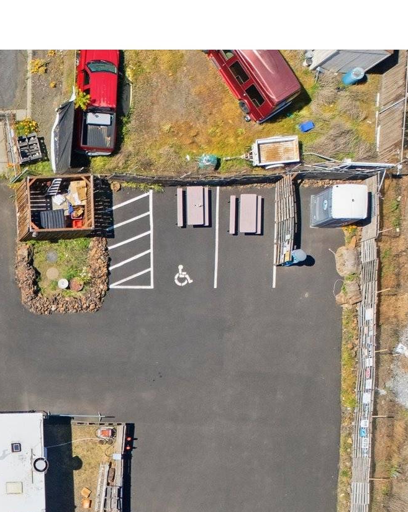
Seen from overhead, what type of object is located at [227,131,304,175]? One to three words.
trailer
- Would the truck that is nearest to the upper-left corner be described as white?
No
